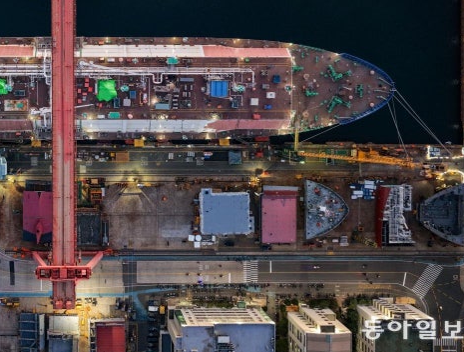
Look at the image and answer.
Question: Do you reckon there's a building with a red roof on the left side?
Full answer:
Yes, you'll find a building with a red roof on the left side.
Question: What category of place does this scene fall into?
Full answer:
What you see here is a port.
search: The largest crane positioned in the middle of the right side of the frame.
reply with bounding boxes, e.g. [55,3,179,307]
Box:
[285,145,419,169]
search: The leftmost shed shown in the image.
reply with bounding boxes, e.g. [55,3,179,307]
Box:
[19,308,45,352]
